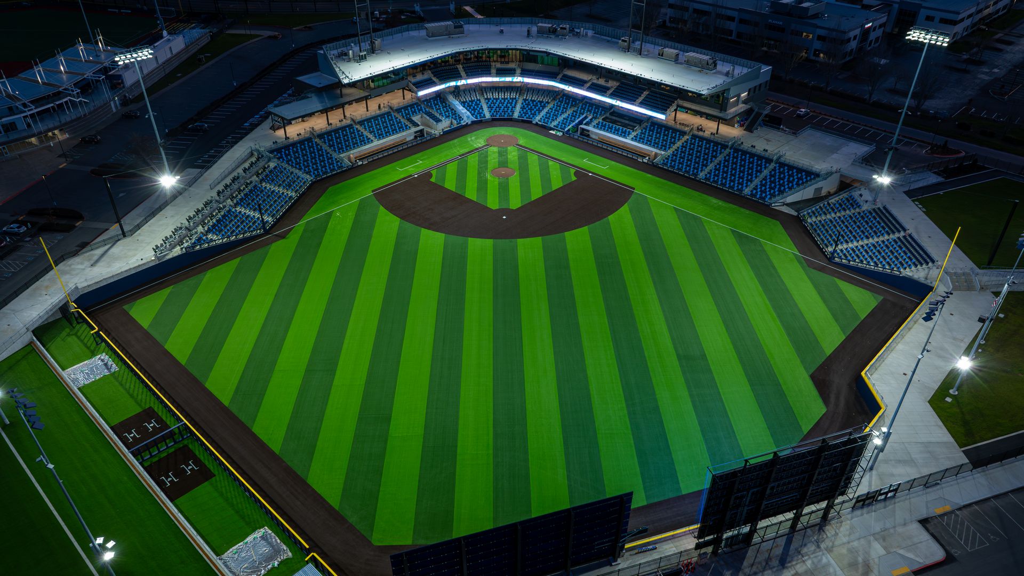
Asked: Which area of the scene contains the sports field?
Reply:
top left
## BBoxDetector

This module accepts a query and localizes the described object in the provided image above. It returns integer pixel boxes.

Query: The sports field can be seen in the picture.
[0,12,154,61]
